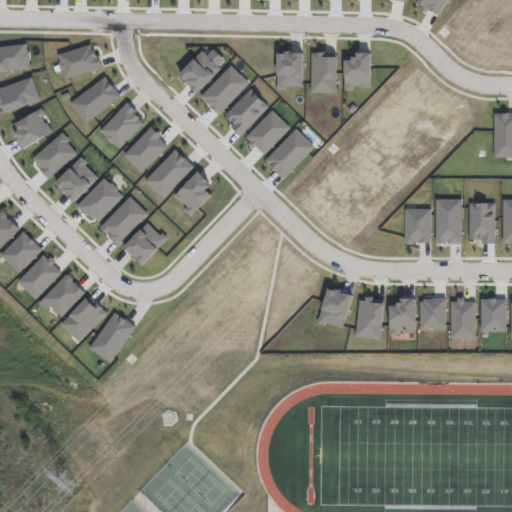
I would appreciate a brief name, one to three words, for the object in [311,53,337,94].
house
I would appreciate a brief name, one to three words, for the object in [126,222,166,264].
house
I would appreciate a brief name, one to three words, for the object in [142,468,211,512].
tennis court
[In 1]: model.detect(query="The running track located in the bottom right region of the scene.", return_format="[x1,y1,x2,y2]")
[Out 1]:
[257,382,512,512]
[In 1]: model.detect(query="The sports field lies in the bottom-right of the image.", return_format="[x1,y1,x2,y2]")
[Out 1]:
[270,395,512,512]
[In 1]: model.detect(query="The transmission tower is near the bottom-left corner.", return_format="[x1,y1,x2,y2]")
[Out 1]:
[44,466,82,496]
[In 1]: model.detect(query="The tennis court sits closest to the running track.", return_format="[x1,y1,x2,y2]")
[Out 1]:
[164,444,240,512]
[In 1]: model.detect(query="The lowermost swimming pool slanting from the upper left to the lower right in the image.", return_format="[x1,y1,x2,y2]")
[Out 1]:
[302,126,324,148]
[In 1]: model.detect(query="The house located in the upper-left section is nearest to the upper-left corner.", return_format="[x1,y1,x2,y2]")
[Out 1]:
[0,42,30,74]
